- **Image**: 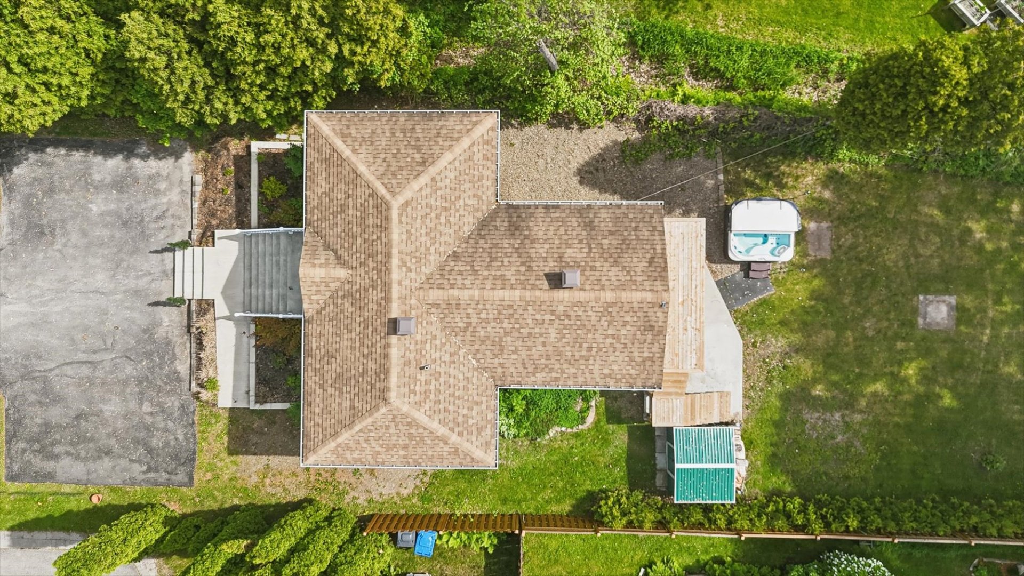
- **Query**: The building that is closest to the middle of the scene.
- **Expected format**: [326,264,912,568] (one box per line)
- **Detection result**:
[297,110,670,469]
